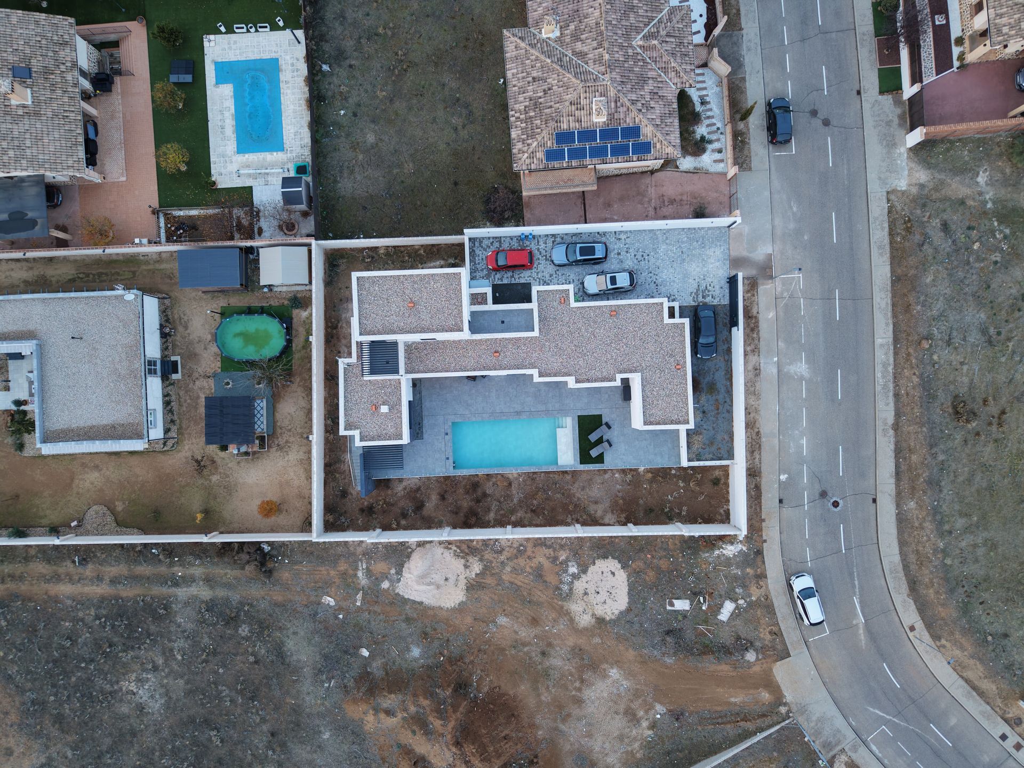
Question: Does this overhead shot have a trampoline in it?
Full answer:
No, there isn't any trampoline down there.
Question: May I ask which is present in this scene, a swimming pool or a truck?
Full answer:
There is a swimming pool in the scene.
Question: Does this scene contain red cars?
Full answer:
Yes, I can see a red car in this picture.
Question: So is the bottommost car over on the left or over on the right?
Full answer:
The bottommost car sits on the right side.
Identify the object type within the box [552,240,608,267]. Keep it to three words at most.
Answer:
car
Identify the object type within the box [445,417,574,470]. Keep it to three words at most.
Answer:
swimming pool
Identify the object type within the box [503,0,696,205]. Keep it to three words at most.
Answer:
house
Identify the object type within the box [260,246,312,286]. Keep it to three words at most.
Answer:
shed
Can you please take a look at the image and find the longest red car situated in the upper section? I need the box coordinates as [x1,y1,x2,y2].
[487,247,533,272]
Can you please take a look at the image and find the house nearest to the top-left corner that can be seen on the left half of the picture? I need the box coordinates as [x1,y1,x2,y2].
[0,14,108,186]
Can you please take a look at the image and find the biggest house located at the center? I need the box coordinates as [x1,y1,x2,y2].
[339,268,694,446]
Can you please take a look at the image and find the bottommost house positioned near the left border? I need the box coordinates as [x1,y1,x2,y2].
[0,282,176,454]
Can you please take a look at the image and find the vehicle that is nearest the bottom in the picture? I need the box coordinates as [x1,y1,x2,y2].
[788,572,826,628]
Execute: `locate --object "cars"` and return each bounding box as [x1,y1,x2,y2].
[788,572,826,628]
[582,270,637,296]
[487,247,533,272]
[766,98,793,146]
[693,305,720,359]
[46,185,63,209]
[552,240,608,267]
